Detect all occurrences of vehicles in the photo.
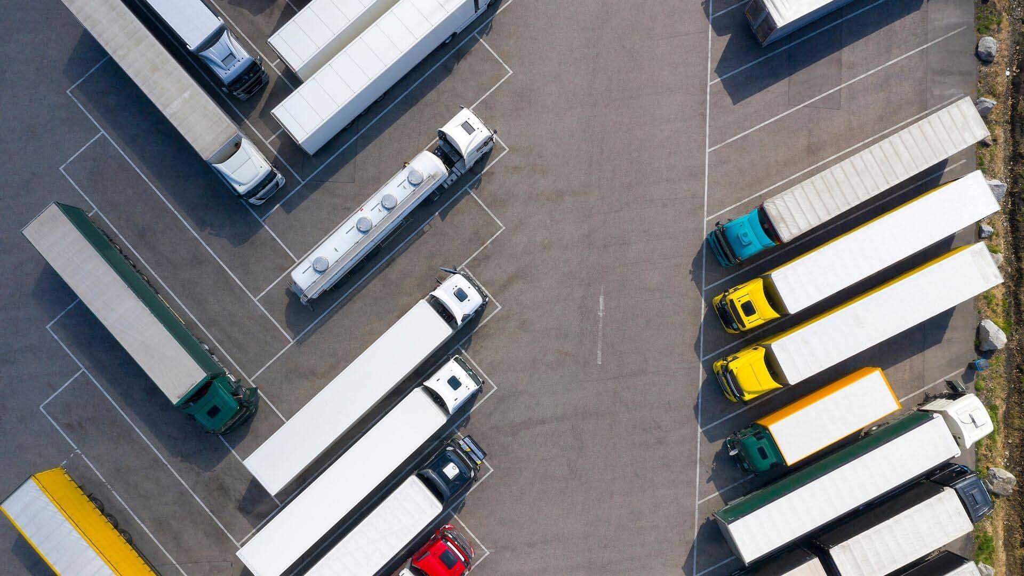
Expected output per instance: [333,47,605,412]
[21,201,261,441]
[707,97,990,270]
[713,242,1004,406]
[713,383,994,565]
[713,170,1000,338]
[268,0,398,84]
[725,368,901,480]
[881,548,981,576]
[0,467,163,576]
[62,0,288,203]
[284,107,497,316]
[302,433,488,576]
[146,0,273,99]
[271,0,484,157]
[392,523,476,576]
[742,0,855,47]
[246,264,491,496]
[238,352,485,576]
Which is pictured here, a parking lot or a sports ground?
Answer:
parking lot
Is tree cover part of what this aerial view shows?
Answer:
No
